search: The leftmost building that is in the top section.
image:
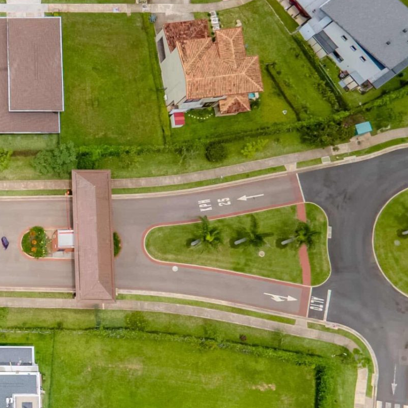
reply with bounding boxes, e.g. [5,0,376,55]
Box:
[0,18,63,136]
